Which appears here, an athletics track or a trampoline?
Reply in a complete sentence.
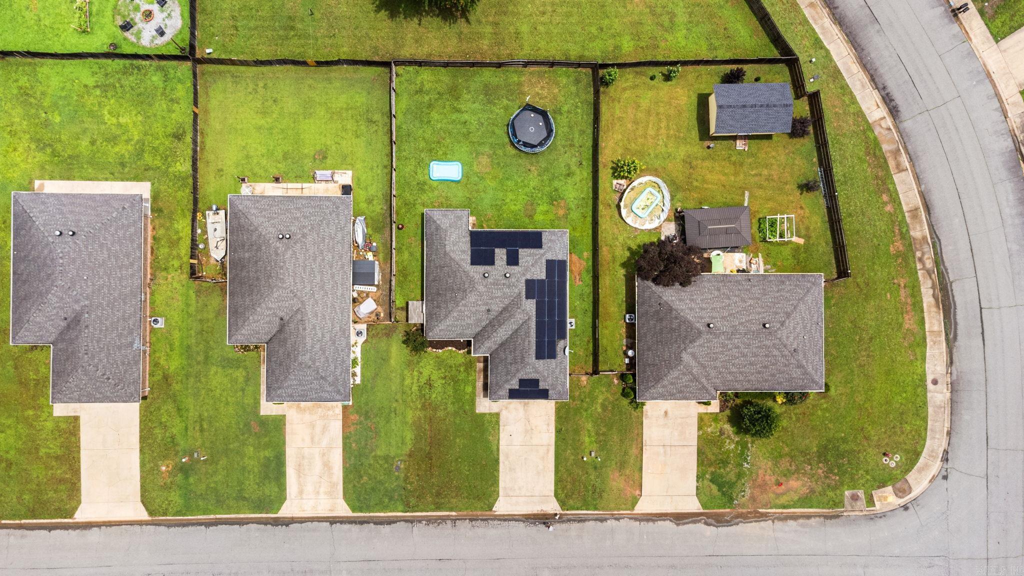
I can see a trampoline in this picture.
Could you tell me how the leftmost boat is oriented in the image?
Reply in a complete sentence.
The leftmost boat is laid out up and down.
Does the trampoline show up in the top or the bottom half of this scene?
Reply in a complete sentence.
You can find the trampoline in the top half.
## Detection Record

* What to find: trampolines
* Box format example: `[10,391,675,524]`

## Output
[509,105,554,154]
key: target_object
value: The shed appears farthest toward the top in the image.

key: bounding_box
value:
[710,83,795,136]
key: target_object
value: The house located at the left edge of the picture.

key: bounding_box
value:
[10,192,155,404]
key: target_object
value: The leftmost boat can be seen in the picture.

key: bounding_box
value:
[205,204,227,266]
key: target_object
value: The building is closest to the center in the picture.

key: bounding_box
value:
[424,209,569,402]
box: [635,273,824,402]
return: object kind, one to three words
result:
house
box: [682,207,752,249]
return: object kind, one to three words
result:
gazebo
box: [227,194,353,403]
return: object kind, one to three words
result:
house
